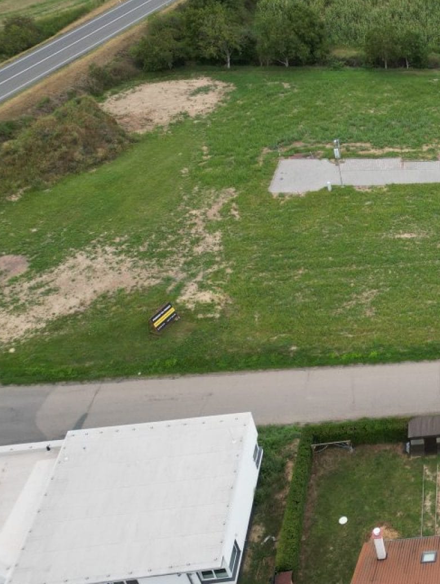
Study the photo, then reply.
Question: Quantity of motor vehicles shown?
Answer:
zero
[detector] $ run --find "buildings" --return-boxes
[406,408,440,460]
[356,535,440,584]
[3,415,260,584]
